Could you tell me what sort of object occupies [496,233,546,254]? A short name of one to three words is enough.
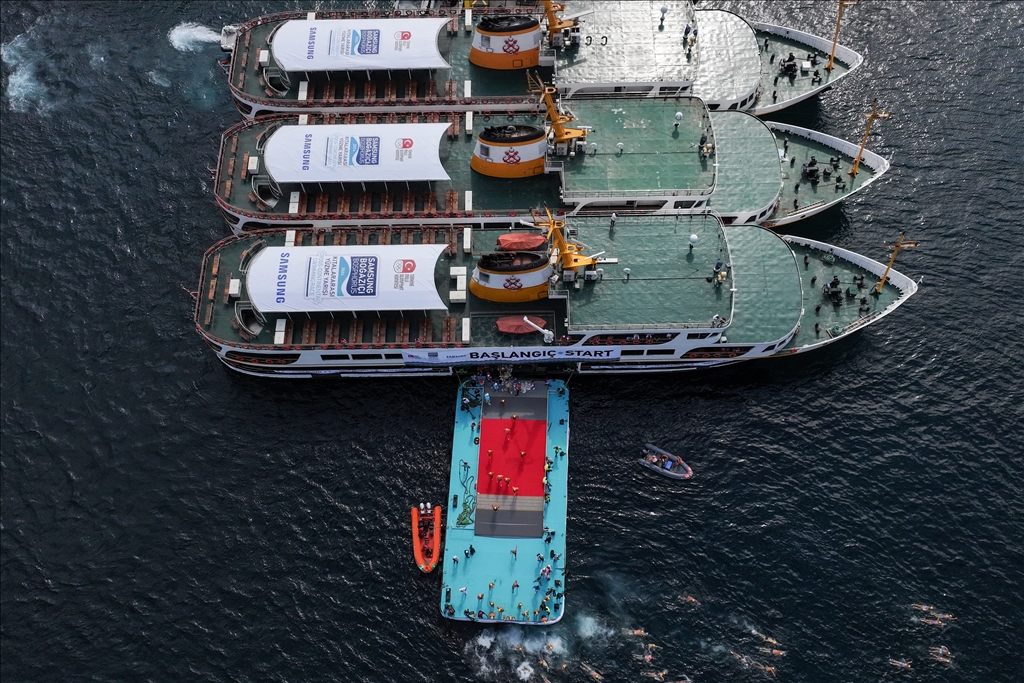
boat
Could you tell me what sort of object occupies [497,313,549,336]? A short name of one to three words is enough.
boat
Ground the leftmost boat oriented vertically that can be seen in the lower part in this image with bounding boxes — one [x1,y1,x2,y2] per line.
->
[412,503,441,574]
